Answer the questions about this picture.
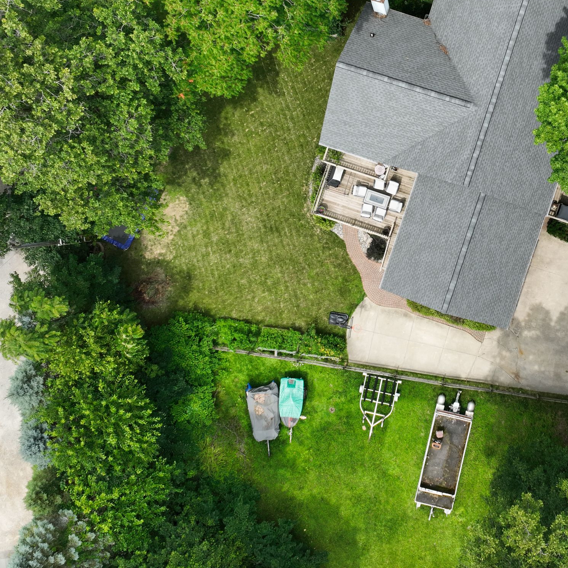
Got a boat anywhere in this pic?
Yes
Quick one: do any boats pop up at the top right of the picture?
No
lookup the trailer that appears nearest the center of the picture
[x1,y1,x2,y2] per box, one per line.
[358,374,401,441]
